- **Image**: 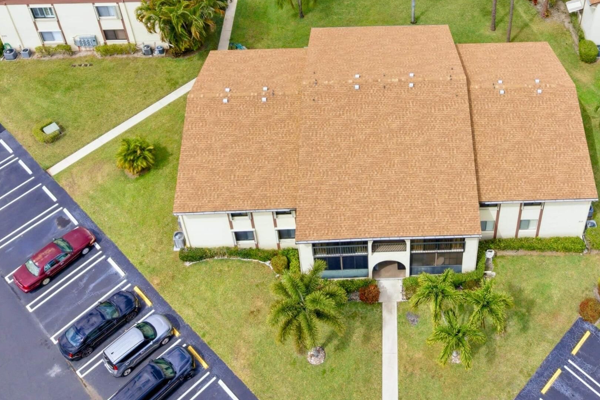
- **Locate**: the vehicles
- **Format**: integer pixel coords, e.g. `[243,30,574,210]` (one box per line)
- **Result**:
[9,229,99,295]
[50,289,143,367]
[105,348,193,400]
[95,309,179,383]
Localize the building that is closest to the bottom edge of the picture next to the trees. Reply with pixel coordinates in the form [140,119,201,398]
[173,25,597,276]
